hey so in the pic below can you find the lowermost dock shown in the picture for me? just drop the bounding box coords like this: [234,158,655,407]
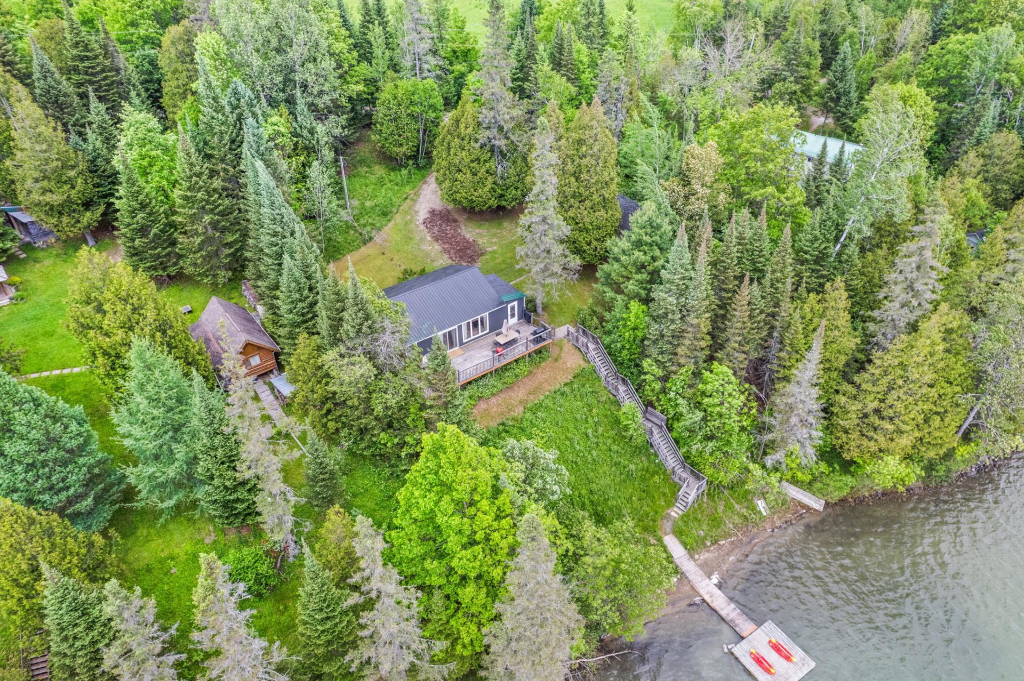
[729,620,816,681]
